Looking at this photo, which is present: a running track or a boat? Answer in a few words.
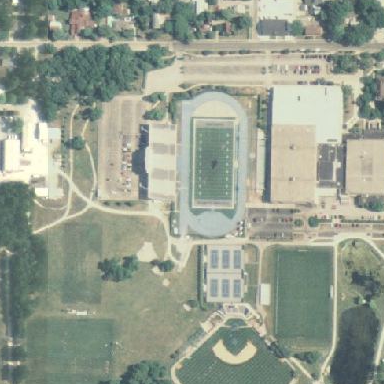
running track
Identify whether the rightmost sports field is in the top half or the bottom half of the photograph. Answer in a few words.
bottom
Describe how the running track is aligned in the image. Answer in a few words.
up and down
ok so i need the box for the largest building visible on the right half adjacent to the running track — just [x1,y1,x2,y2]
[271,85,343,204]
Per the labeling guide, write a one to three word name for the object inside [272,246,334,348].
sports field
